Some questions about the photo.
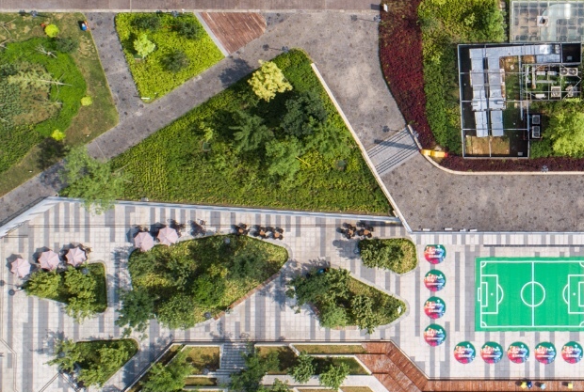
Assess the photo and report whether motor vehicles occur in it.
No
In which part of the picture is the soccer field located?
bottom right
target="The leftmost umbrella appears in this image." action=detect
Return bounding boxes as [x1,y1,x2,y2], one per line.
[10,257,36,278]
